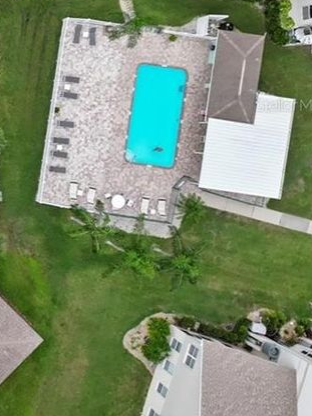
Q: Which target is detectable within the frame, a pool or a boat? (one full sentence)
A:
Of the two, only a pool appears.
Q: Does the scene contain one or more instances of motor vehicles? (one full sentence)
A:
No, this view has no motor vehicle in it.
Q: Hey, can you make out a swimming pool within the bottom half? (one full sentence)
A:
No, there is no swimming pool within the bottom half.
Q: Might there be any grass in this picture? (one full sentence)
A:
Yes, the picture does contain grass.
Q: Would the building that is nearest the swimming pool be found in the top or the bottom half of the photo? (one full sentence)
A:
The building that is nearest the swimming pool sits in the top half of the picture.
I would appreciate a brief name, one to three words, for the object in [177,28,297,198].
building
